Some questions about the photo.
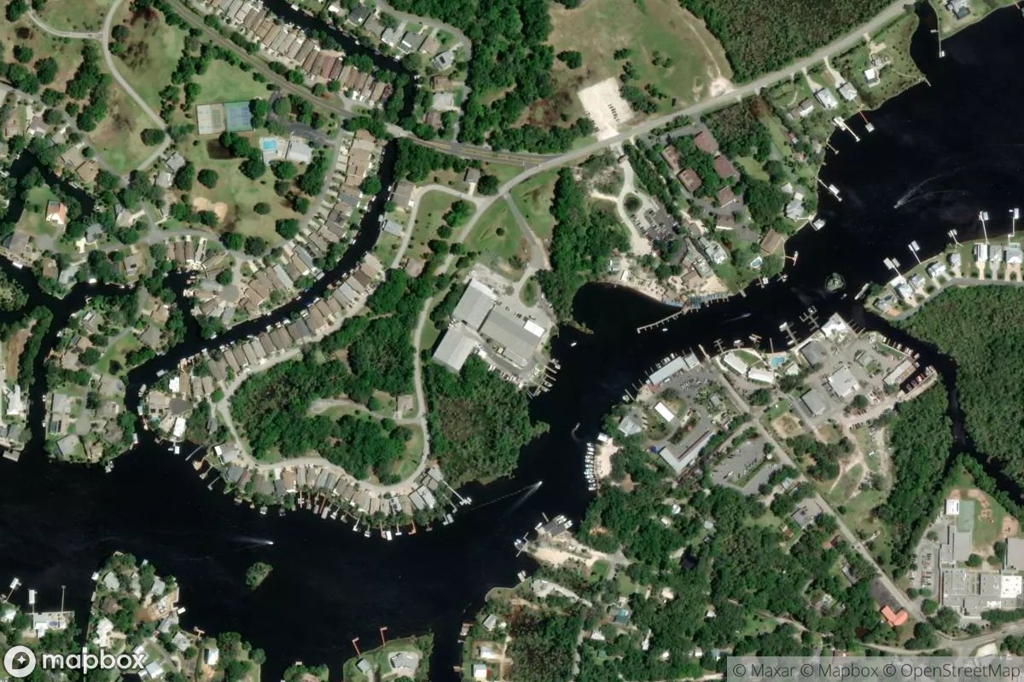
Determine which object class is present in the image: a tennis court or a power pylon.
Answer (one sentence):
There is a tennis court in the scene.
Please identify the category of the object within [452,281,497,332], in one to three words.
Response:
shed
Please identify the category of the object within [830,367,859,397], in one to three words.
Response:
building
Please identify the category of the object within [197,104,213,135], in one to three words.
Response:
sports court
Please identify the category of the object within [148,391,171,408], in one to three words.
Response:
house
